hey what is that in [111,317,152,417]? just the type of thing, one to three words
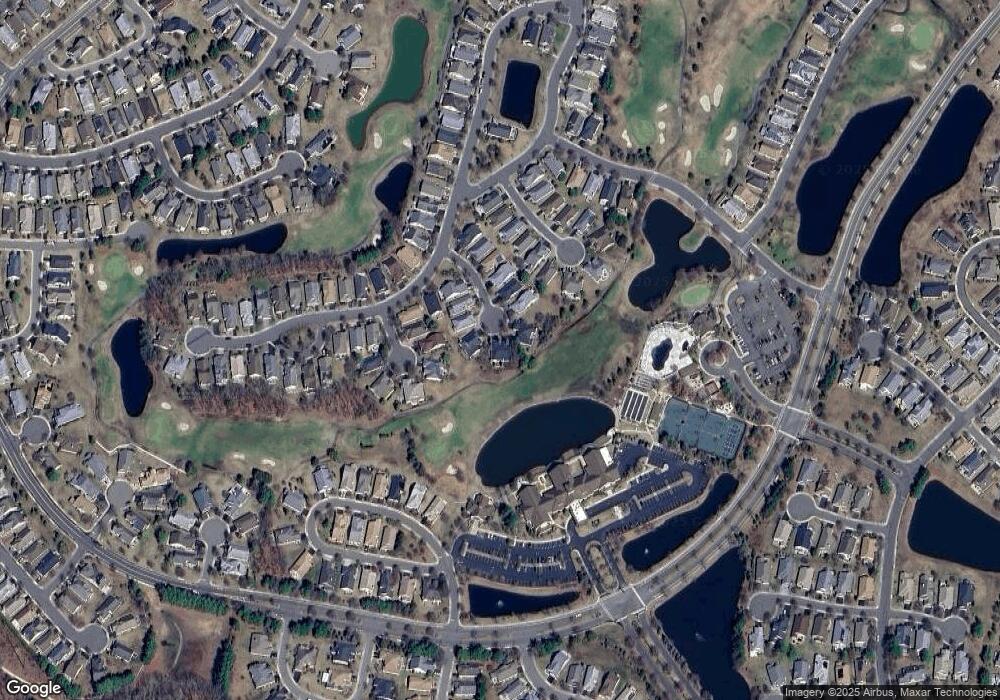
pond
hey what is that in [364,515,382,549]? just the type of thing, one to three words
house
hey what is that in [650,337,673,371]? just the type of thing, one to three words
swimming pool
